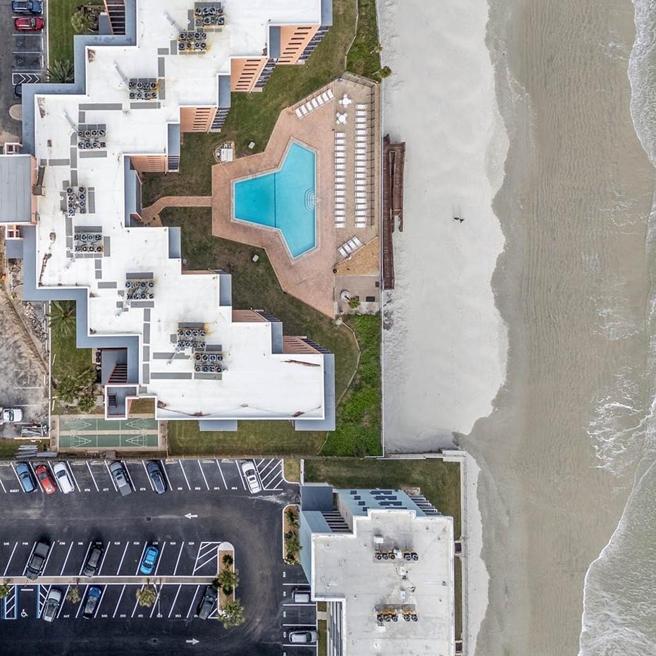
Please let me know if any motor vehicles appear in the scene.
Yes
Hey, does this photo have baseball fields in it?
No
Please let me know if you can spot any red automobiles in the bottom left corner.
Yes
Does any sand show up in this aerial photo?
Yes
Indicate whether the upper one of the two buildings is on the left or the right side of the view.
left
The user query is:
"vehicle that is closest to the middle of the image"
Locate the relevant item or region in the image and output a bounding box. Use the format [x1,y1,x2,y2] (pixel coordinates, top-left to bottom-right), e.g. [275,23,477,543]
[241,459,262,495]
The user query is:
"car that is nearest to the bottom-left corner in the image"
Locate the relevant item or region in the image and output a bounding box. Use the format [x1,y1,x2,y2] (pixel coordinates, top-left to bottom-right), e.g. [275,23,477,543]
[42,586,64,624]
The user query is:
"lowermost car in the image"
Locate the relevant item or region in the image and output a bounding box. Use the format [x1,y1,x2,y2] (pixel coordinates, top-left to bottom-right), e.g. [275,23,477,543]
[288,628,317,644]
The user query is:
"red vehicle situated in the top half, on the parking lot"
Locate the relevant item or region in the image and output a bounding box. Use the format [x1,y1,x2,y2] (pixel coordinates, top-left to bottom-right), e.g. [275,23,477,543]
[15,17,45,31]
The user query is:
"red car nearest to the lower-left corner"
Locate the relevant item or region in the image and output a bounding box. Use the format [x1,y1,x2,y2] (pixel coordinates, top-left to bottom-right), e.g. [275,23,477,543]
[35,463,57,495]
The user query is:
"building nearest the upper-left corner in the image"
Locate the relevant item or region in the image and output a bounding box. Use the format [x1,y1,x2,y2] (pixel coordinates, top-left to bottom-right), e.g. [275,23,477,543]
[0,0,335,430]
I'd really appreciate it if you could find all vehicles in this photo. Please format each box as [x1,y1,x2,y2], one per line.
[12,0,43,14]
[141,544,158,573]
[241,459,262,495]
[288,628,317,644]
[84,544,103,577]
[15,17,45,31]
[292,588,318,604]
[15,85,21,97]
[35,463,57,495]
[53,460,75,495]
[28,539,51,580]
[109,460,133,499]
[146,461,166,495]
[195,583,218,623]
[18,461,35,492]
[42,586,64,624]
[80,583,100,621]
[0,407,23,424]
